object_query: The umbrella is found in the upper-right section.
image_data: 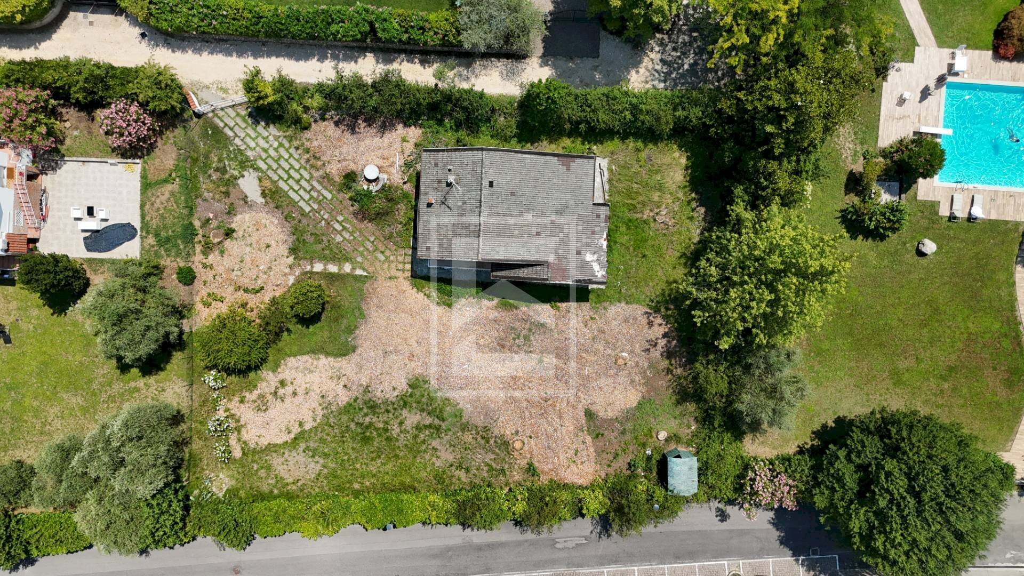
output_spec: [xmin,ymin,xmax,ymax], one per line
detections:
[930,70,947,99]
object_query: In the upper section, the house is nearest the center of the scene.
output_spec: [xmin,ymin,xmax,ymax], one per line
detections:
[411,147,610,292]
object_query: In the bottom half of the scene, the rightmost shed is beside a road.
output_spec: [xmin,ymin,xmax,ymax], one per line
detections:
[663,445,697,493]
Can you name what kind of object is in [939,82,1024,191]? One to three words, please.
swimming pool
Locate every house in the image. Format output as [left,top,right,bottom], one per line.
[0,140,50,270]
[411,147,610,292]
